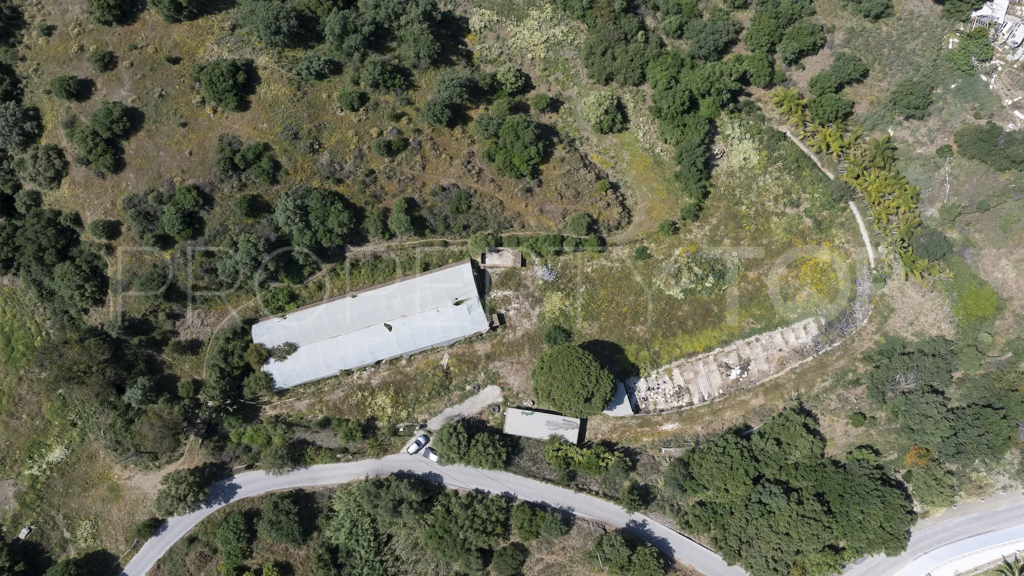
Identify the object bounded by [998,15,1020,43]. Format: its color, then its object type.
white vehicle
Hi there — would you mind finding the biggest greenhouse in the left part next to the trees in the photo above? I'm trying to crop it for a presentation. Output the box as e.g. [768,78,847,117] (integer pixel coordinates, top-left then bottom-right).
[252,261,490,389]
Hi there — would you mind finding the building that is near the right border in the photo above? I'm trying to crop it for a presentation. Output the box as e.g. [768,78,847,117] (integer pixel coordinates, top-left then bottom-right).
[966,0,1009,31]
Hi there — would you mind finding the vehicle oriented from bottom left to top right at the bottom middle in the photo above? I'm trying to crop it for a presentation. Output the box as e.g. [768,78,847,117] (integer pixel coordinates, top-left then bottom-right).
[406,433,431,457]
